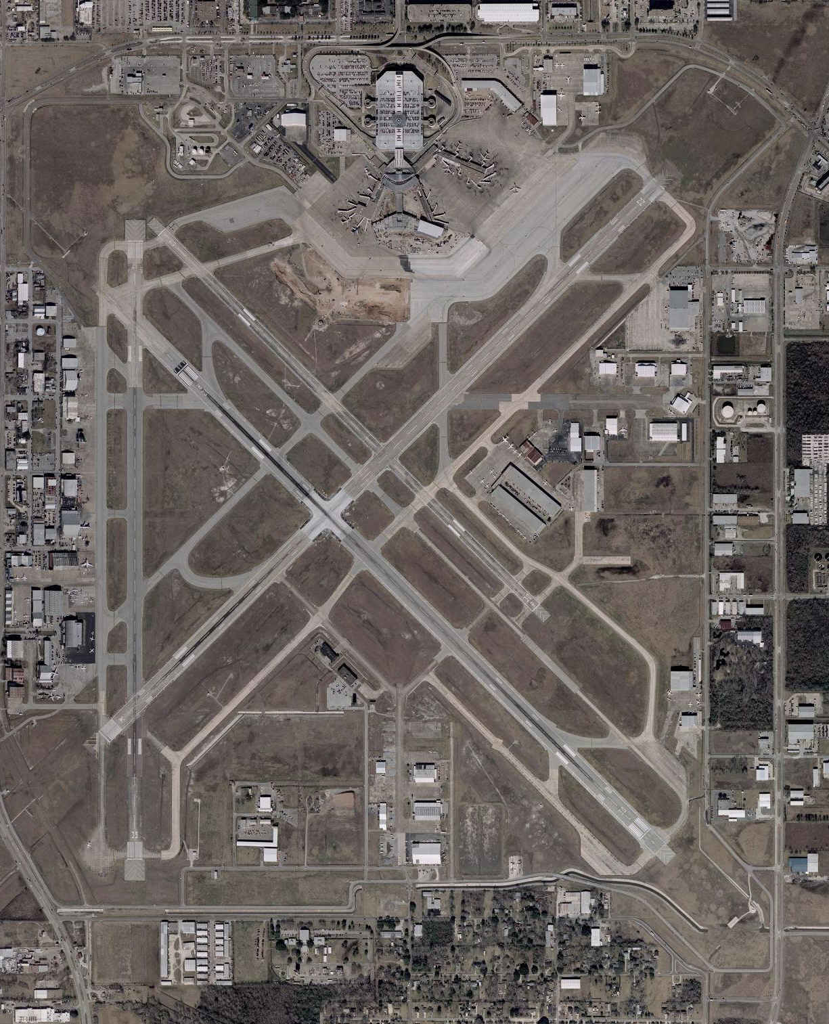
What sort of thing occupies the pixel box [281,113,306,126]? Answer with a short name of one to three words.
hangar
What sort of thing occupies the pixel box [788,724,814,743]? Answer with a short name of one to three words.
building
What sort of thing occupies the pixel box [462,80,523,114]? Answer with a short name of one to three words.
building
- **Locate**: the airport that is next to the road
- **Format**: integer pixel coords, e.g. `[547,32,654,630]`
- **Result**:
[6,106,702,881]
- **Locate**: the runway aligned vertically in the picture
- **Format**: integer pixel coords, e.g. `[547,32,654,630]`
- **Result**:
[125,219,146,881]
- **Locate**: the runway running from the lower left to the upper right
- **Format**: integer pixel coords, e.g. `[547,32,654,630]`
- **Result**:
[81,172,669,745]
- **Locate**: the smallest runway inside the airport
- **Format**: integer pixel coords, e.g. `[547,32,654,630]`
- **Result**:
[140,210,547,619]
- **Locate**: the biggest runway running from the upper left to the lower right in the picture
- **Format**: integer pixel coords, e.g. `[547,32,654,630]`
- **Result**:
[94,281,671,860]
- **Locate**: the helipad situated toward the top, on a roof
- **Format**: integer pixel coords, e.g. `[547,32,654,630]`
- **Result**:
[392,113,406,127]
